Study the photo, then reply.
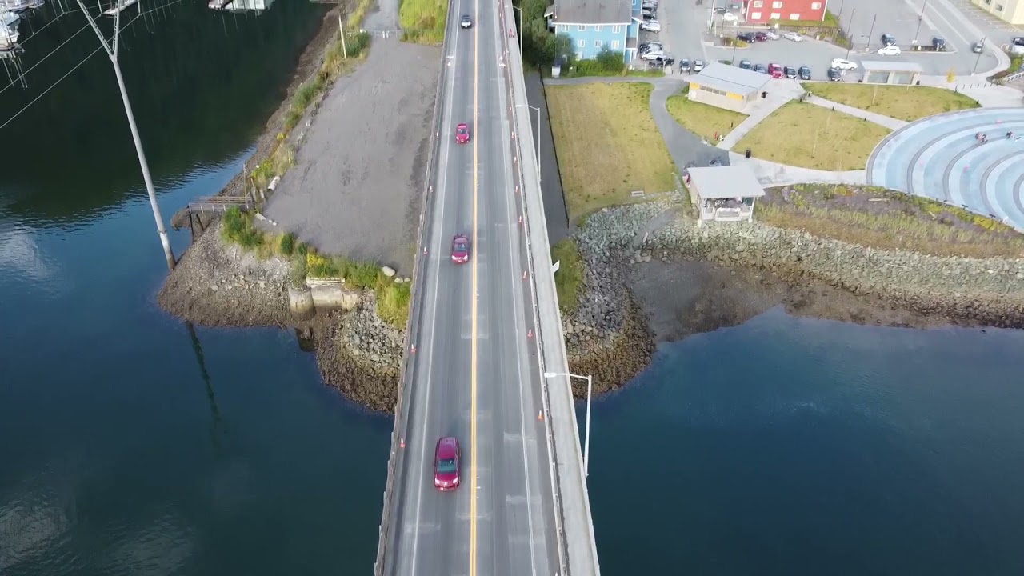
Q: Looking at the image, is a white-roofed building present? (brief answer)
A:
Yes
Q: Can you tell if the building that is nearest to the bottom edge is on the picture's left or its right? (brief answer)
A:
right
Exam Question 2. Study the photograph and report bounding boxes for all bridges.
[371,0,602,576]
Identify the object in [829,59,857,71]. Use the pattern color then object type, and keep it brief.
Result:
white vehicle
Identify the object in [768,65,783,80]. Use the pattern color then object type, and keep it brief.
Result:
pink vehicle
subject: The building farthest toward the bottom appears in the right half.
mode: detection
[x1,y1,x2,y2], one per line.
[687,161,766,220]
